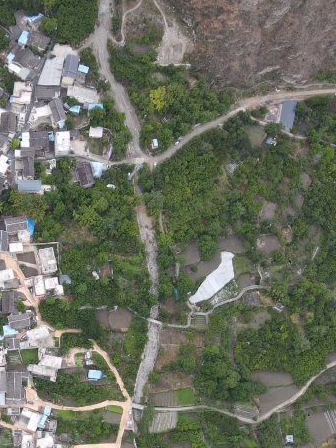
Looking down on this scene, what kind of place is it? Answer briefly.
residential area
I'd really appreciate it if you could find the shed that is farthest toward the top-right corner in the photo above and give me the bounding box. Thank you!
[275,100,298,133]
